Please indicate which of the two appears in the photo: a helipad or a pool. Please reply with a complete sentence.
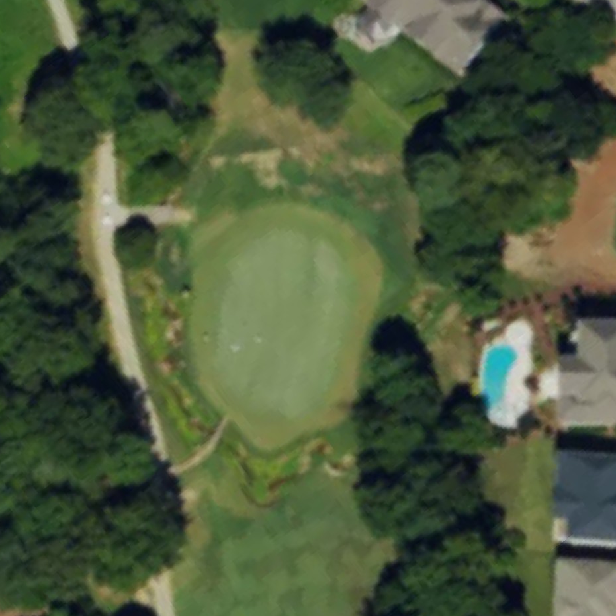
The one in the frame is a pool.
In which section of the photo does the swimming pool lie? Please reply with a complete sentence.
The swimming pool is in the right part of the image.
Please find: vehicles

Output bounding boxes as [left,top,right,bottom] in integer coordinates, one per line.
[101,189,111,206]
[102,212,112,227]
